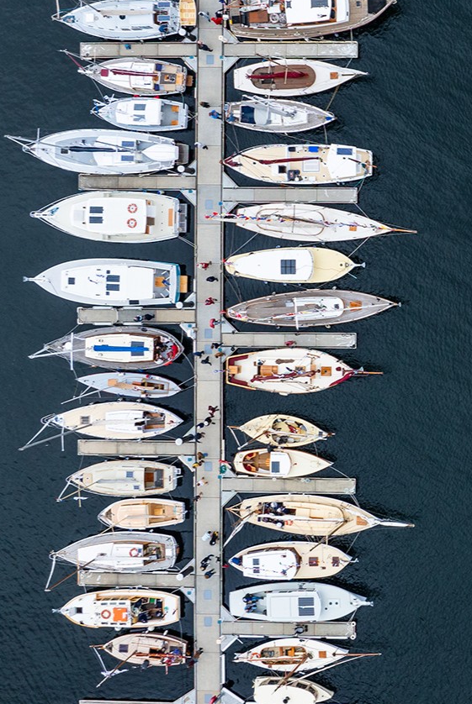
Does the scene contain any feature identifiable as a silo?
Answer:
No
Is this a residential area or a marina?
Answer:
marina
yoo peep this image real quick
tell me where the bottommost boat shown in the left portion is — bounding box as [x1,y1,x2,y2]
[89,632,192,688]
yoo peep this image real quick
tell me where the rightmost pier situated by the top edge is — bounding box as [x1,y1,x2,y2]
[224,28,358,72]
